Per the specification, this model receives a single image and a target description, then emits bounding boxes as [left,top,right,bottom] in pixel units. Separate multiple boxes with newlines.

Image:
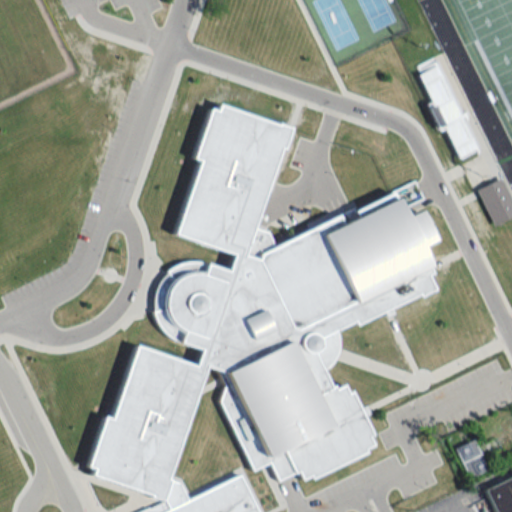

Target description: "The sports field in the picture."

[444,0,512,139]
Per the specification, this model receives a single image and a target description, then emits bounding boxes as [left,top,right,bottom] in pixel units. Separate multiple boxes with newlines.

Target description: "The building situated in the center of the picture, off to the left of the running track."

[85,103,442,512]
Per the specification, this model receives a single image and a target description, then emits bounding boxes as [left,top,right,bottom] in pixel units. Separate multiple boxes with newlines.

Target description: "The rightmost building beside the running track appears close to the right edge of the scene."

[476,180,512,226]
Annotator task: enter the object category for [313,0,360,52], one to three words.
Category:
tennis court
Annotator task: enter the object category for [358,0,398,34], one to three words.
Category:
tennis court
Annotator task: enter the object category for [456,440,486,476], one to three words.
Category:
building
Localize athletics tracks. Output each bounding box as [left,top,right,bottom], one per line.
[418,0,512,186]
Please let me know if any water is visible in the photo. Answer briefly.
No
